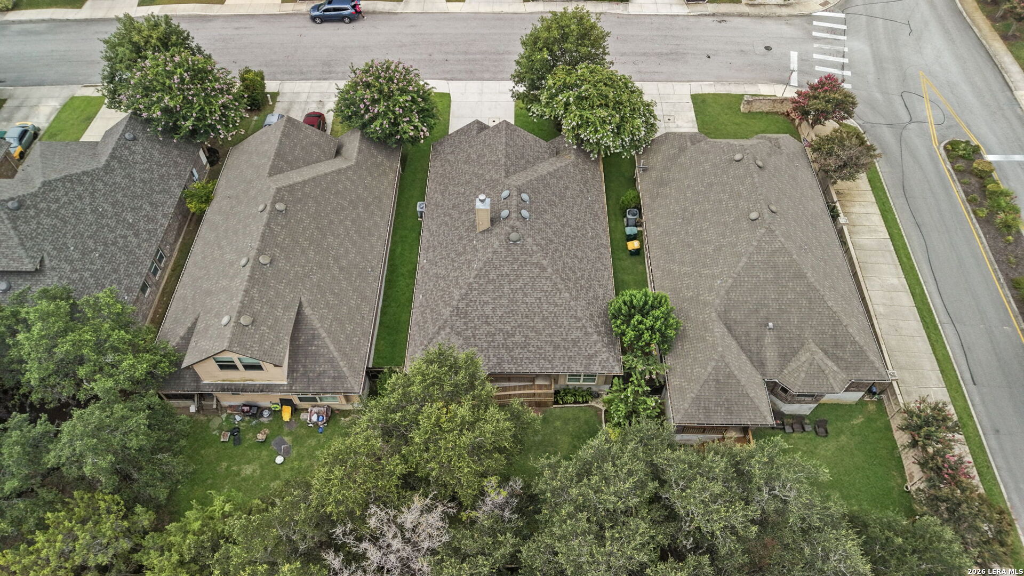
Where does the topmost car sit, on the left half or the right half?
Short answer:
left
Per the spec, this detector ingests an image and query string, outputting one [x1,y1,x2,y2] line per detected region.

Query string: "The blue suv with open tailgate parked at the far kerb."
[306,0,360,23]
